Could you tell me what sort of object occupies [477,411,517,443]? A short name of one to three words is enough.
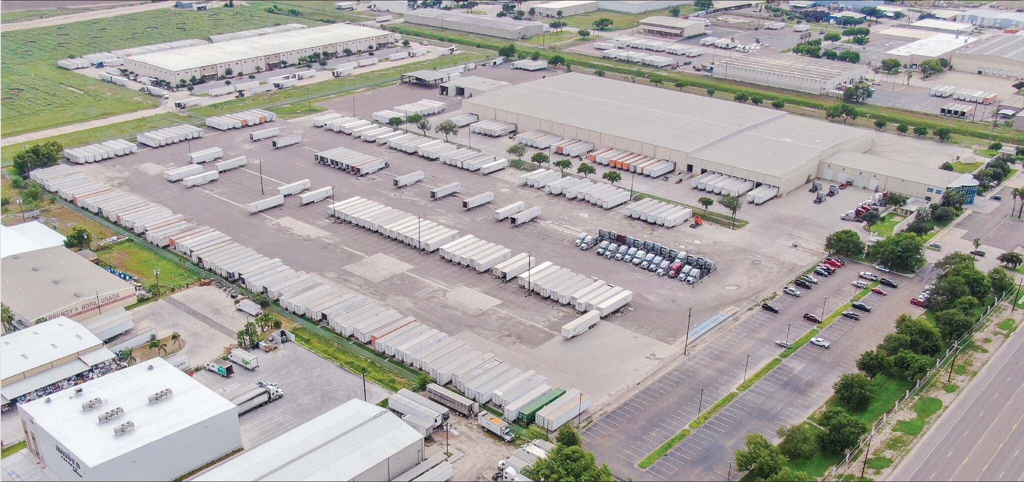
truck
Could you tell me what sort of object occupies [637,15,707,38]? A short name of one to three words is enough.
building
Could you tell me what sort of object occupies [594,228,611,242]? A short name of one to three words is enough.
vehicle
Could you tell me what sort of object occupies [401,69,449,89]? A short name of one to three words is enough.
shed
